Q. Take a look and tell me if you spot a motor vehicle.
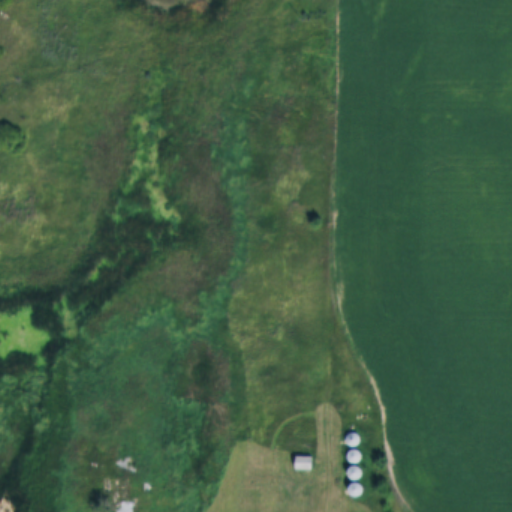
No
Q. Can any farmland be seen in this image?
Yes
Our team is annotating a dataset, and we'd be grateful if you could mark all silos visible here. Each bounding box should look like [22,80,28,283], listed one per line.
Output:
[346,432,361,448]
[346,449,362,465]
[347,466,362,482]
[347,482,363,499]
